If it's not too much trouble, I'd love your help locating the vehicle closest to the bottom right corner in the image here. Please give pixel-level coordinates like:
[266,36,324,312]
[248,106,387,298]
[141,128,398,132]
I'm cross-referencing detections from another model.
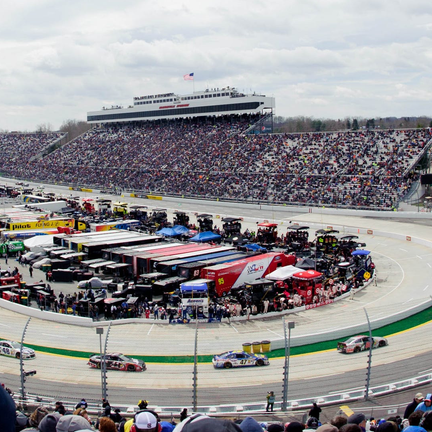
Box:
[339,337,381,354]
